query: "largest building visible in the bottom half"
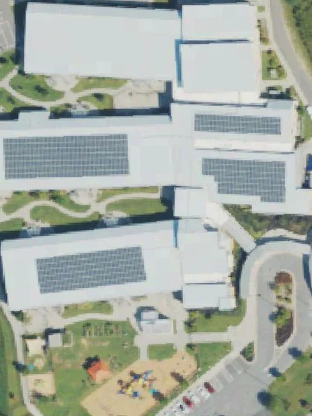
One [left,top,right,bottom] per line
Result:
[1,218,236,310]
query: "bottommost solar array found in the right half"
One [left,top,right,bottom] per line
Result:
[202,157,284,202]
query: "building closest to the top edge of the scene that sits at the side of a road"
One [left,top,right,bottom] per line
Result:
[24,2,264,102]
